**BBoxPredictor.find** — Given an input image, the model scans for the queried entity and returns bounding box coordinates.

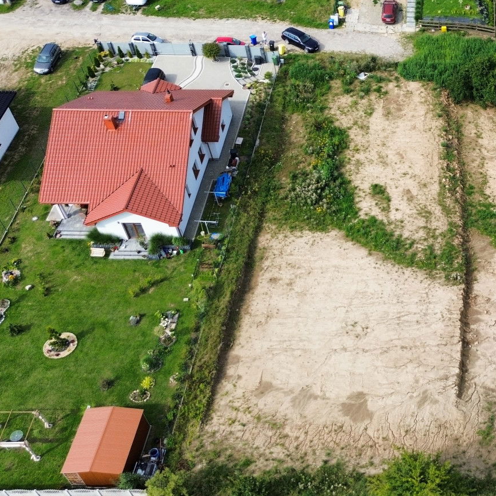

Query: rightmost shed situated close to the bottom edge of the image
[58,402,149,487]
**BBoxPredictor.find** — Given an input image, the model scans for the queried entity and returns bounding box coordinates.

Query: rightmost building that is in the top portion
[39,76,235,259]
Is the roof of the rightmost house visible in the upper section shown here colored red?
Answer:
Yes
